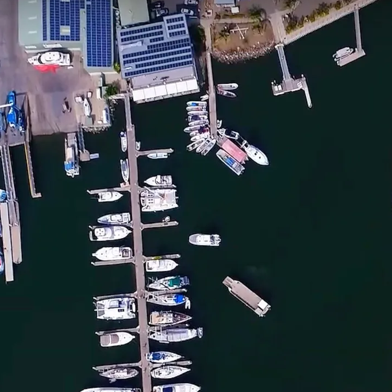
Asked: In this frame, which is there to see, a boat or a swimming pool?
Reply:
boat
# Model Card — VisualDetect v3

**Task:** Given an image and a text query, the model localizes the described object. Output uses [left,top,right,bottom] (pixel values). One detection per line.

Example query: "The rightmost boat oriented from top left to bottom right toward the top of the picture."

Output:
[238,138,270,165]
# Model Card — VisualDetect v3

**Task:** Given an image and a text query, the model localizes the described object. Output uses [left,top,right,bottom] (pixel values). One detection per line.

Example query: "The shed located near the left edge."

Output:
[18,0,120,78]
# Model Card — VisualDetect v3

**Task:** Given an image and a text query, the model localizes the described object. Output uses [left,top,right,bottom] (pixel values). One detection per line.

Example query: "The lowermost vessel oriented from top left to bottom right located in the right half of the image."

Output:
[223,277,270,316]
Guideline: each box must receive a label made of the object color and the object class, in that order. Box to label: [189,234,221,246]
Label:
white boat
